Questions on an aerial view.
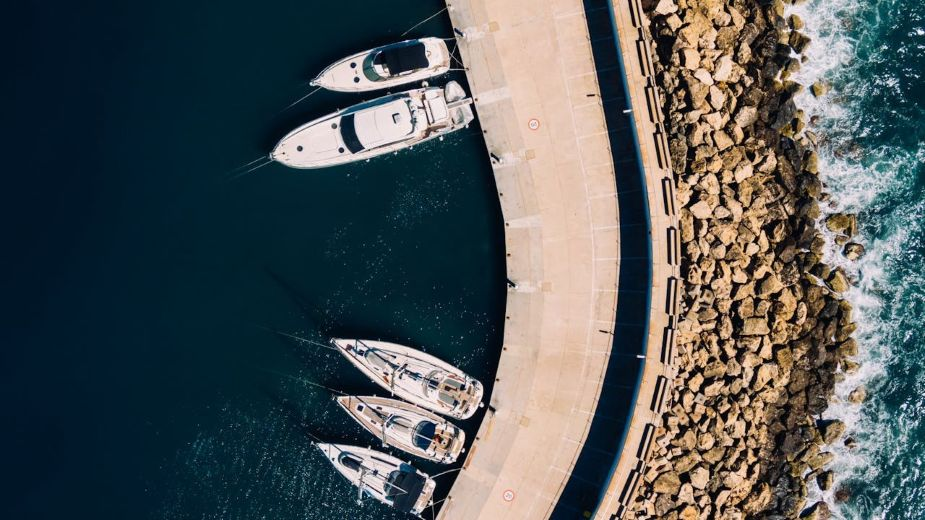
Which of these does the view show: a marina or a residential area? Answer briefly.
marina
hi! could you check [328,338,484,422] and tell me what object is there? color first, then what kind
white boat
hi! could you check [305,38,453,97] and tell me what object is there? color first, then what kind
white boat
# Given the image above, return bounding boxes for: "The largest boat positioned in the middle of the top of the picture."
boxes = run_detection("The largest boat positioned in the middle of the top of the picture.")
[265,81,474,167]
